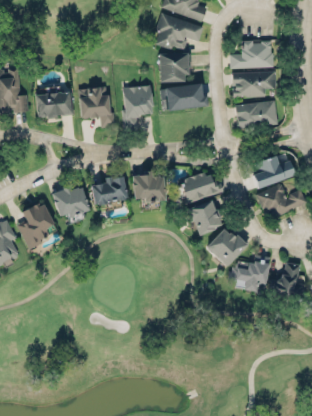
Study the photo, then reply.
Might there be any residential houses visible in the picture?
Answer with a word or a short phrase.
Yes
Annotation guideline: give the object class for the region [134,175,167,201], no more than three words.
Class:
house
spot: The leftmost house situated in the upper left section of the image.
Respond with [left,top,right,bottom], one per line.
[0,66,28,114]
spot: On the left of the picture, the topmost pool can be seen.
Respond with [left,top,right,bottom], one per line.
[38,69,66,86]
